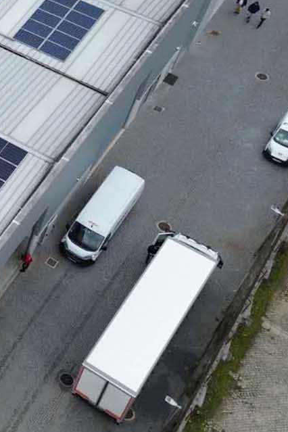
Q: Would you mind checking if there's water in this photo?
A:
No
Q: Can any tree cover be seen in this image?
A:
No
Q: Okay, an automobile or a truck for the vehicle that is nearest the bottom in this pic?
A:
truck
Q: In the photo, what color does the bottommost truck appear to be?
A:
white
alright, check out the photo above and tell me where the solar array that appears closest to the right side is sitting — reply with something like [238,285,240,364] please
[14,0,103,62]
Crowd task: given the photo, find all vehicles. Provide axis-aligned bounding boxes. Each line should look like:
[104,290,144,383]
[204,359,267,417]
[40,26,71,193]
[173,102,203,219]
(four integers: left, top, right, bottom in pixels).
[264,114,288,170]
[65,230,222,427]
[61,166,146,272]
